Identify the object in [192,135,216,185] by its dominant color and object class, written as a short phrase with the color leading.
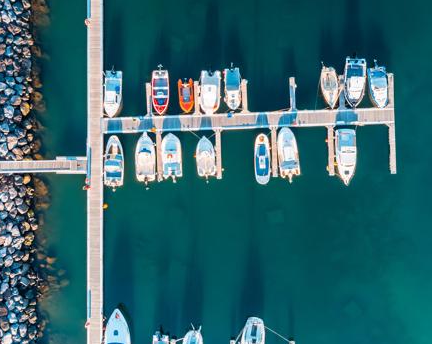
white boat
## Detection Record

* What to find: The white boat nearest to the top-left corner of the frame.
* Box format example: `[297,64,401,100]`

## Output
[102,60,122,118]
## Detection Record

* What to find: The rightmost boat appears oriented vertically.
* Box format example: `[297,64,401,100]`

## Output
[366,59,389,109]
